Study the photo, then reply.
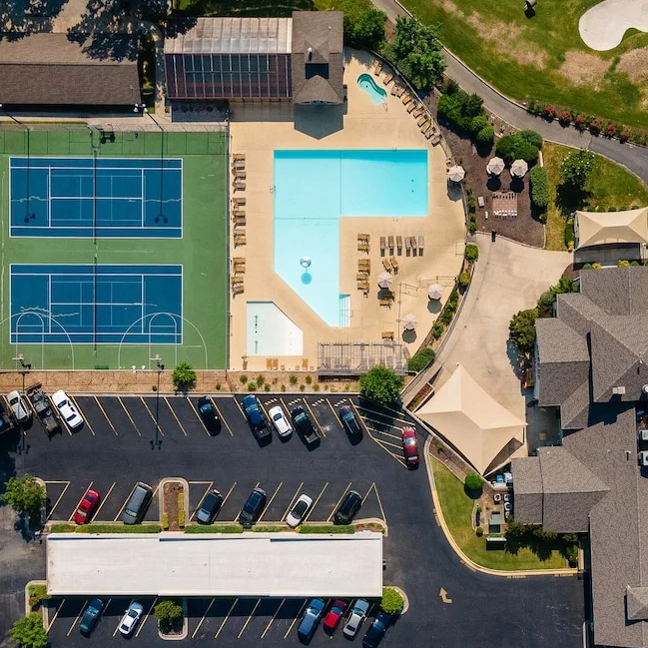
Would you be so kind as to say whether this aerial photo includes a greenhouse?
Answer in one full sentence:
Yes, a greenhouse appears in the view.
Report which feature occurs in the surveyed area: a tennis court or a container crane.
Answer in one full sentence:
I can see a tennis court in this picture.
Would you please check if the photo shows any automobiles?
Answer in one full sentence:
Yes, there's an automobile here.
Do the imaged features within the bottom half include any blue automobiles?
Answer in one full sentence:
Yes, you'll find a blue automobile within the bottom half.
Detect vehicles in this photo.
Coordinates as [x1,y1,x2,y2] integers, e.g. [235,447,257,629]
[288,402,321,448]
[77,598,104,635]
[400,426,419,466]
[195,488,223,524]
[54,391,82,427]
[22,385,63,436]
[296,599,325,637]
[266,402,294,439]
[361,608,394,648]
[121,483,151,522]
[238,488,266,525]
[336,403,364,440]
[194,395,222,432]
[334,489,362,526]
[5,389,33,427]
[116,600,144,637]
[0,407,12,433]
[239,393,273,440]
[285,493,313,528]
[323,598,348,631]
[72,487,101,523]
[343,600,371,637]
